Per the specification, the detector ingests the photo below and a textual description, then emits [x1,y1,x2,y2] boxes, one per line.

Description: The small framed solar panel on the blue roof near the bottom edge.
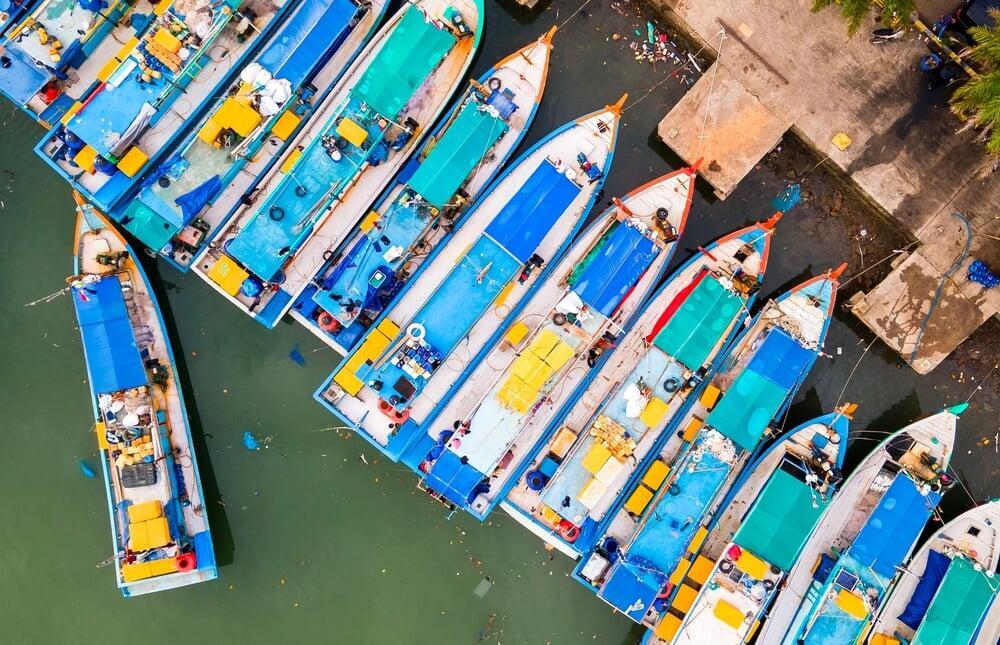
[834,569,857,592]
